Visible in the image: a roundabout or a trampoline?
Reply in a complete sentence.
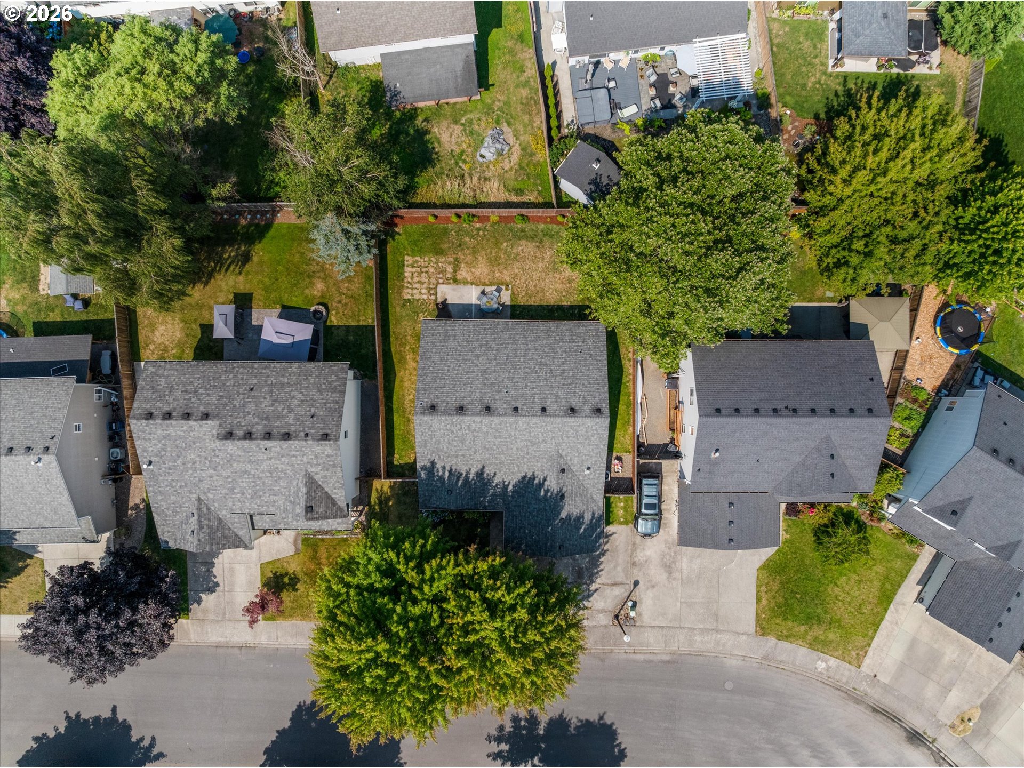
This aerial view contains a trampoline.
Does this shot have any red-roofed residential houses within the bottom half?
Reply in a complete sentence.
No, I can find no red-roofed residential house within the bottom half.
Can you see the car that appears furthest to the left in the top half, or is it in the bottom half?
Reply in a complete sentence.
The car that appears furthest to the left sits in the bottom half of the picture.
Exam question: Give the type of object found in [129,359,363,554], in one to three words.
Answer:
house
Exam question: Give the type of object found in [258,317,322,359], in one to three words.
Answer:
gazebo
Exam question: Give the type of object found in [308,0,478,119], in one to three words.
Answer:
house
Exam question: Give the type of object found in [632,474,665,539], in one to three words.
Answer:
car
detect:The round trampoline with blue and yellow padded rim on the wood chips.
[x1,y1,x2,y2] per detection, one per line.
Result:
[931,300,1003,355]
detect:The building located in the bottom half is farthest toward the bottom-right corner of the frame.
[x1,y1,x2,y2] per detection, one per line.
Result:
[868,379,1024,658]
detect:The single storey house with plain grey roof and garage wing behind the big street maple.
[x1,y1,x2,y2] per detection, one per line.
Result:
[416,318,610,556]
